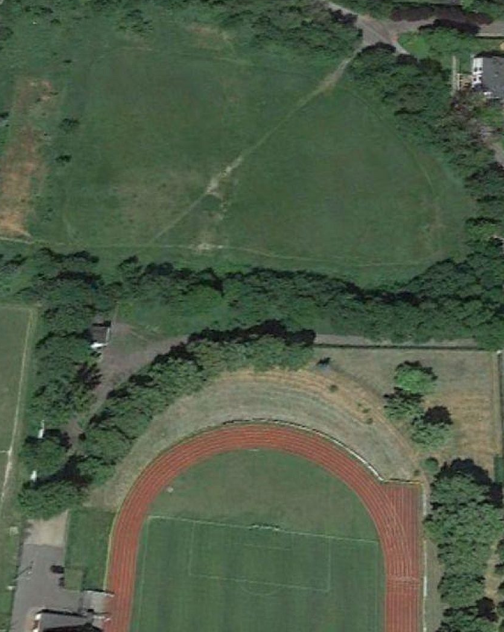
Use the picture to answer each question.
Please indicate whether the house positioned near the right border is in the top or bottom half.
top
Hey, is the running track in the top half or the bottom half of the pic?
bottom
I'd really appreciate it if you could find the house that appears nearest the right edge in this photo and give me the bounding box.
[469,57,504,94]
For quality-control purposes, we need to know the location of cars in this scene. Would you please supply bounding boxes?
[58,577,65,587]
[52,568,62,573]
